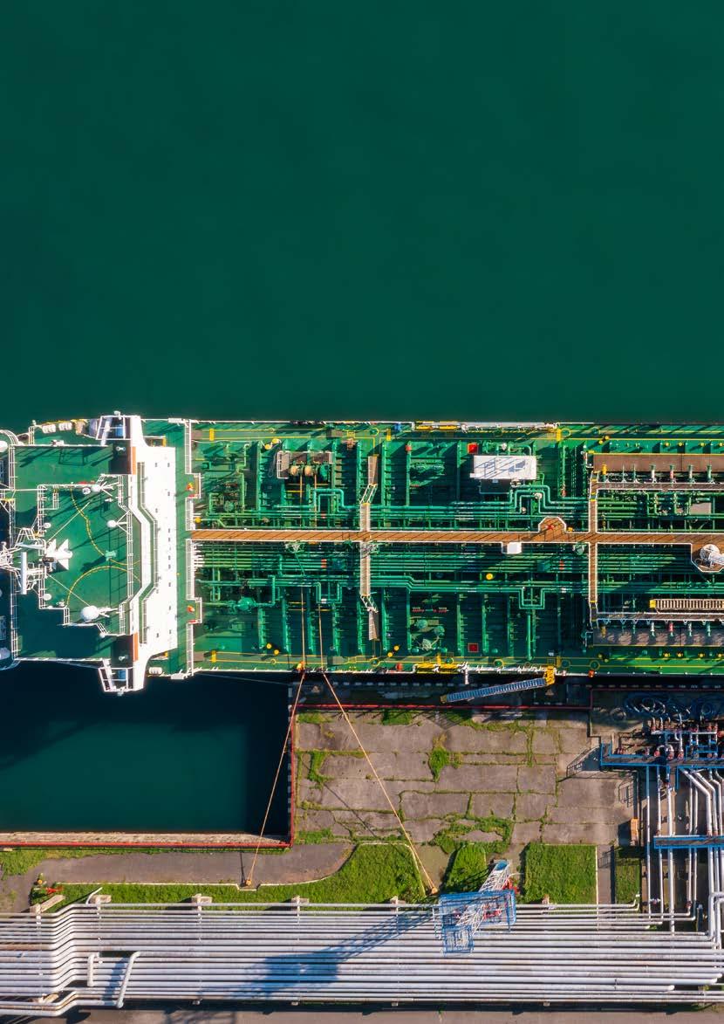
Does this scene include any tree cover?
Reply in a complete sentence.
No, tree cover can't be seen anywhere here.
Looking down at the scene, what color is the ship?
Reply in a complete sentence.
From above, the ship appears green.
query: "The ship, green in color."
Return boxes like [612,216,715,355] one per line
[0,411,724,696]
